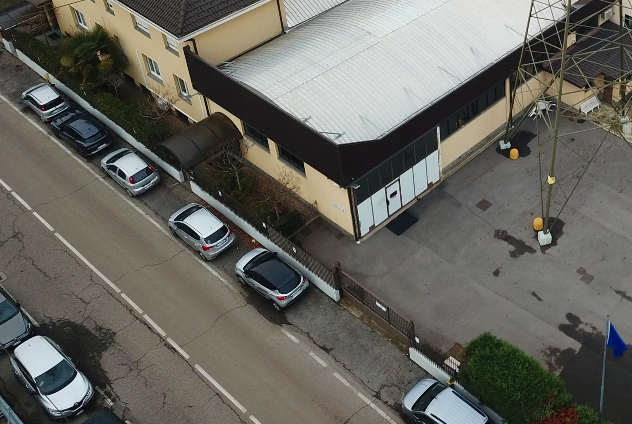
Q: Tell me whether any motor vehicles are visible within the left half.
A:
Yes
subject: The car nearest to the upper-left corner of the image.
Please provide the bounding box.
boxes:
[21,80,74,122]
